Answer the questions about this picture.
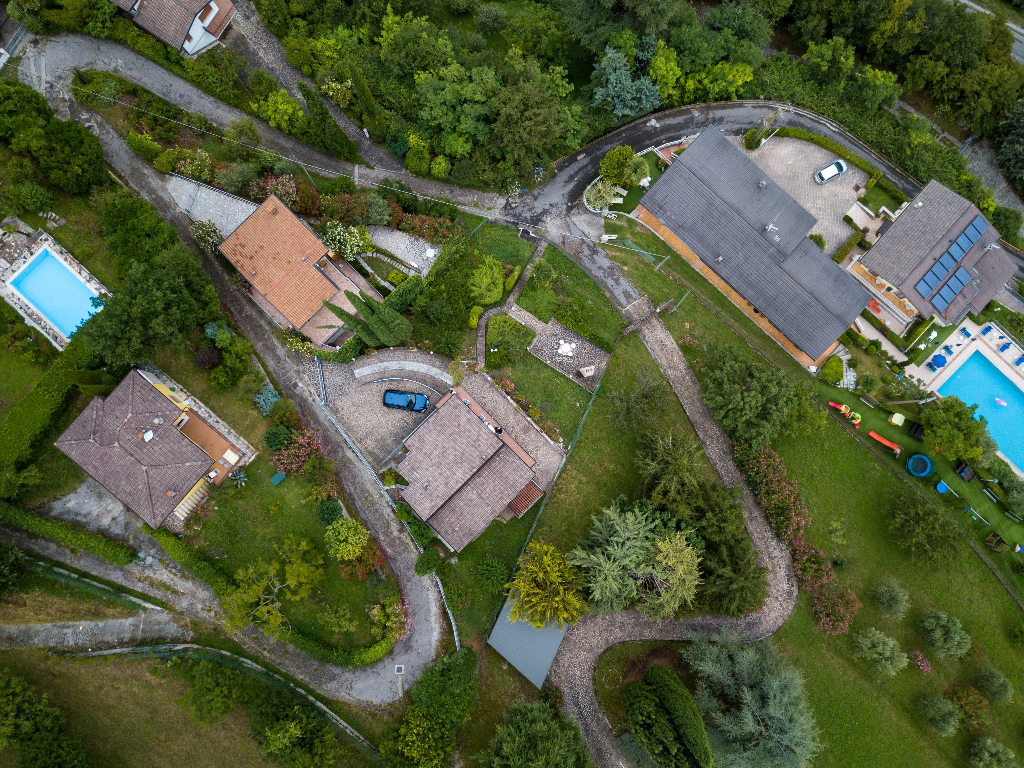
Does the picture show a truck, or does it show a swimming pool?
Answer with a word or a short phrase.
swimming pool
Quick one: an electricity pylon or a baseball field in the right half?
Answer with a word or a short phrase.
electricity pylon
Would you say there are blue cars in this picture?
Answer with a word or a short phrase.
Yes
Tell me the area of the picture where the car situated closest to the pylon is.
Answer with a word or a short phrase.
top right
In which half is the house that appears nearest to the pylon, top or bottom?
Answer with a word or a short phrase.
top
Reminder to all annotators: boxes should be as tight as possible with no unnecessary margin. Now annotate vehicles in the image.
[809,155,852,188]
[383,389,428,413]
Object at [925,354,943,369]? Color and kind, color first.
blue umbrella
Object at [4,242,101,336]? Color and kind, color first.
blue swimming pool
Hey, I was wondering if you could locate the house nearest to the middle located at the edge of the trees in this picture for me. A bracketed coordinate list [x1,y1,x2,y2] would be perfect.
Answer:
[396,381,544,553]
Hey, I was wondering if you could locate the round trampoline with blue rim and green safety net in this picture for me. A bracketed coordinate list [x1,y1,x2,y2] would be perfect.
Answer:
[905,454,938,477]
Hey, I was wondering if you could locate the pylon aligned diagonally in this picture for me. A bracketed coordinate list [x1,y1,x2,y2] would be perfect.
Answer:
[751,81,815,145]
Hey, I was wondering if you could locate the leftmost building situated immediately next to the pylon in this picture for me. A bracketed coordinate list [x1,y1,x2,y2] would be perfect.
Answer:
[638,123,873,367]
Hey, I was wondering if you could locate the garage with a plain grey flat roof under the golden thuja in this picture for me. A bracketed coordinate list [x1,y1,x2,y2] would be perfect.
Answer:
[489,584,568,688]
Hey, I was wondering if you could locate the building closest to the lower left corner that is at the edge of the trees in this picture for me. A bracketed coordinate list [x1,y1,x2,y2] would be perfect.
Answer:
[53,367,248,530]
